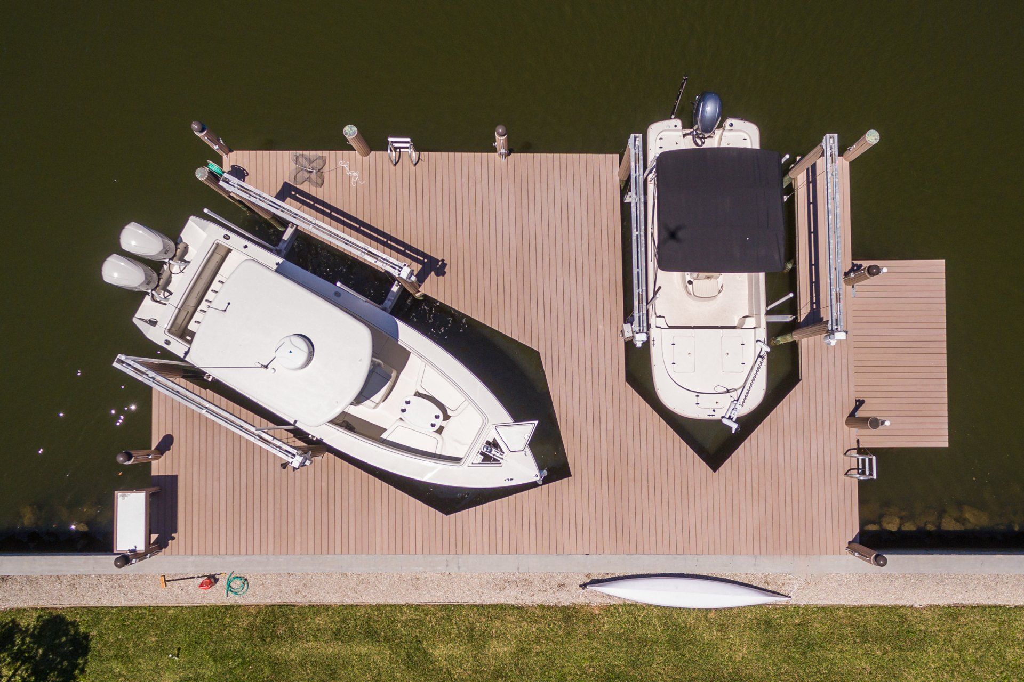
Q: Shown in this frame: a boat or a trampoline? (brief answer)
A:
boat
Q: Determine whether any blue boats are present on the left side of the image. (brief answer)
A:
No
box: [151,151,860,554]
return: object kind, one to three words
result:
pier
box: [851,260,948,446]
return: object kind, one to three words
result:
pier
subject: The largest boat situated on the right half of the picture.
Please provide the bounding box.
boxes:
[646,75,784,433]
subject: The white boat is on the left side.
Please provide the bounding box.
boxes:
[100,217,547,489]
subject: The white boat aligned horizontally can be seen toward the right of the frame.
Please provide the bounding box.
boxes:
[579,576,798,610]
